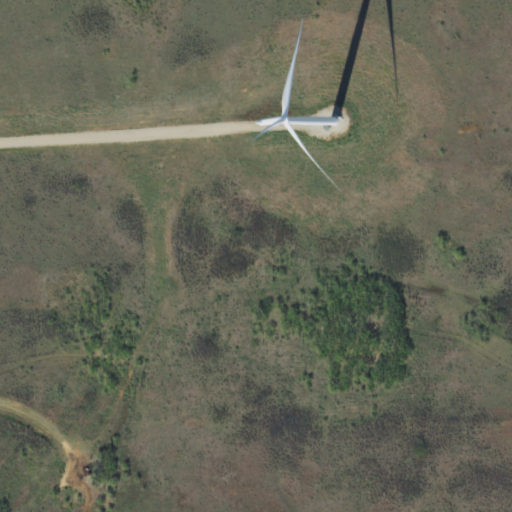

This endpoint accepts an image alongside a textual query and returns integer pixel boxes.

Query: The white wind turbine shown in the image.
[252,18,345,191]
